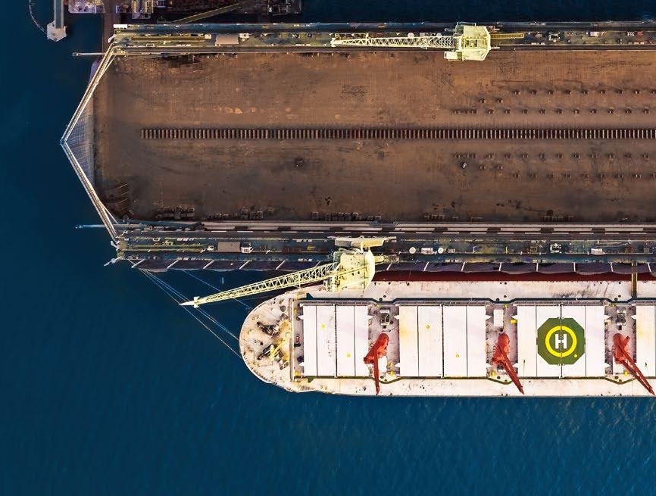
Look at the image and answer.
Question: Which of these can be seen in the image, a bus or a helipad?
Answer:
helipad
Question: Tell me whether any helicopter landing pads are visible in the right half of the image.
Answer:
Yes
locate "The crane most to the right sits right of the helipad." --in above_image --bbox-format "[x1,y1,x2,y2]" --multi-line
[613,332,656,395]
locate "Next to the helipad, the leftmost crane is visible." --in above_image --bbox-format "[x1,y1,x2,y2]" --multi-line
[493,332,526,394]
